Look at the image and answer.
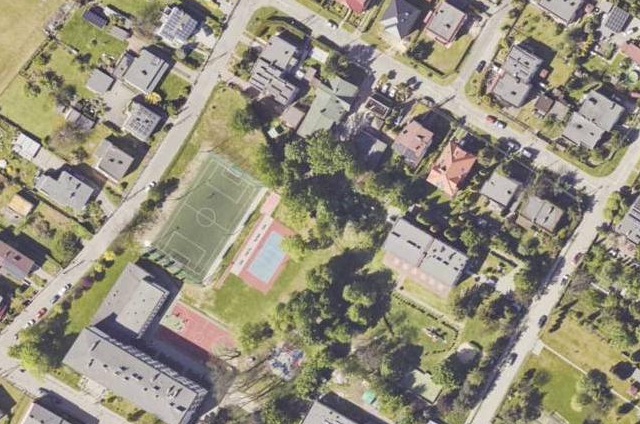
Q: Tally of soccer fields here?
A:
1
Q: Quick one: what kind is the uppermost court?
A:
basketball court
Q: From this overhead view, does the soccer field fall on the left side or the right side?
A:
left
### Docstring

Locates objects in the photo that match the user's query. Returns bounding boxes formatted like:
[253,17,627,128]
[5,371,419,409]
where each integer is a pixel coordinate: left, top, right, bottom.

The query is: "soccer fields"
[141,152,264,283]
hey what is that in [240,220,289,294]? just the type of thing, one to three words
basketball court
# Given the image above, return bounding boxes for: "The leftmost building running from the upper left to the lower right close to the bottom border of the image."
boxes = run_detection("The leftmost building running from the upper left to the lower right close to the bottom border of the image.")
[65,324,202,424]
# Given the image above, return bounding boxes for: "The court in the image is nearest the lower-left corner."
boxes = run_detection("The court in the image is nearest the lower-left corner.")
[155,302,235,367]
